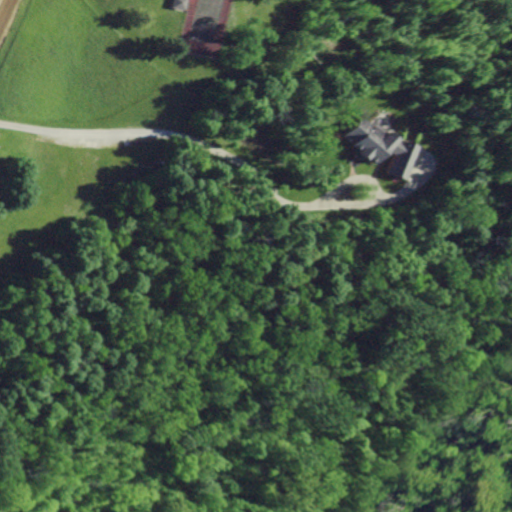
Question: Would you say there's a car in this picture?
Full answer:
No, there isn't any car down there.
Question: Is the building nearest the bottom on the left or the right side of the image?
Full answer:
You can find the building nearest the bottom on the right side of the picture.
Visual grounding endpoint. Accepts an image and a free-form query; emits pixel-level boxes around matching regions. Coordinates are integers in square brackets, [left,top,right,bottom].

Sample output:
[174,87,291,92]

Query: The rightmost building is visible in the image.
[395,141,423,182]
